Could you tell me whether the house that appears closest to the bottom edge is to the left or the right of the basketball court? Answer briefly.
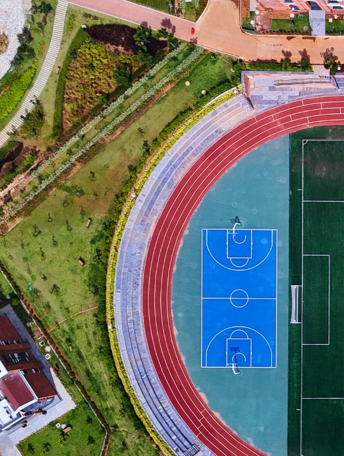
on its left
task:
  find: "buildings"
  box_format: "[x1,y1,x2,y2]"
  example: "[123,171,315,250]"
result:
[251,0,344,16]
[0,304,60,437]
